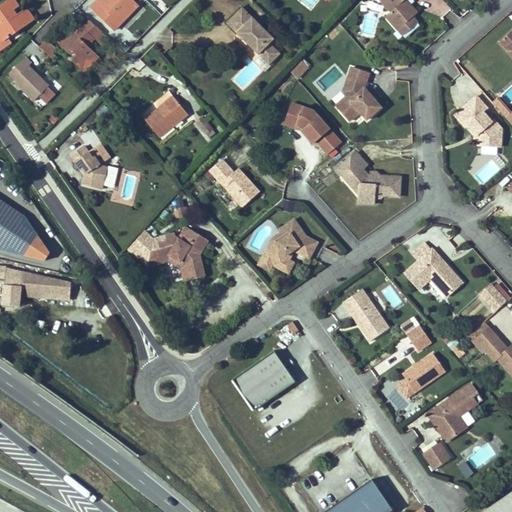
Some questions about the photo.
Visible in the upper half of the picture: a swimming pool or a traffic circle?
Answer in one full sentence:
The one visible in the upper half of the picture is a swimming pool.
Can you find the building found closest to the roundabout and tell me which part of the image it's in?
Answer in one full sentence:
The building found closest to the roundabout sits in the bottom section of the image.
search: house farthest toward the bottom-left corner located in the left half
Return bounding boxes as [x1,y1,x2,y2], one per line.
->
[0,269,70,309]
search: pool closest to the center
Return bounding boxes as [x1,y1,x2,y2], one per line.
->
[244,219,278,256]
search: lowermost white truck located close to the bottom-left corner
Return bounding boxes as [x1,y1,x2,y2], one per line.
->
[61,474,97,504]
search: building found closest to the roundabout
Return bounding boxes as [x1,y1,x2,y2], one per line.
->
[234,352,296,410]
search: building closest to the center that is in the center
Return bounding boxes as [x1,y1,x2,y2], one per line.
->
[258,218,319,275]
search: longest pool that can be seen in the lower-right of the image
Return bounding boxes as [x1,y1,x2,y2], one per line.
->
[459,433,504,472]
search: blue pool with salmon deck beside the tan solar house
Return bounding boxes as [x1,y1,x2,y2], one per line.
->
[111,168,140,206]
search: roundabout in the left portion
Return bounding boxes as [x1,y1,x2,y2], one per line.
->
[136,356,202,422]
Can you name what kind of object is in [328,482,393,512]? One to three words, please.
building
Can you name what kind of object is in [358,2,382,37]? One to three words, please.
swimming pool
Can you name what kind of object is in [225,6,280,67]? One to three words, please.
house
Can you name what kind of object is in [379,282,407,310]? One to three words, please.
swimming pool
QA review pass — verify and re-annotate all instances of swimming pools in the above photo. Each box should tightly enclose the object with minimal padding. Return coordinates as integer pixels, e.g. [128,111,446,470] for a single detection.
[312,62,346,101]
[459,433,504,472]
[301,0,320,10]
[358,2,382,37]
[379,282,407,310]
[497,83,512,110]
[232,56,272,90]
[111,168,140,206]
[468,154,507,186]
[244,219,278,256]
